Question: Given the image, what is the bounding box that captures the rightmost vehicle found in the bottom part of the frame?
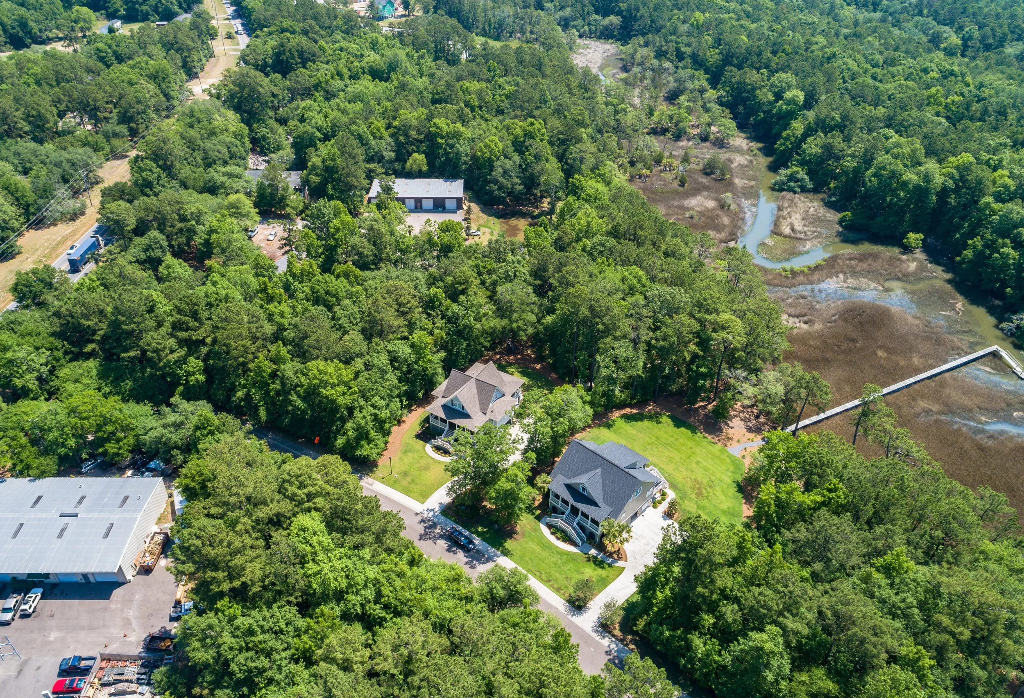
[447,522,477,549]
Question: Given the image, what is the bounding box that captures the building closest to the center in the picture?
[426,360,533,453]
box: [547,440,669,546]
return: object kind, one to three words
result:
house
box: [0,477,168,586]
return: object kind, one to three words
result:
building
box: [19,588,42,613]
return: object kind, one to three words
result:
car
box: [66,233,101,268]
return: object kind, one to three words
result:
trailer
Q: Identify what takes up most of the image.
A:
trees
